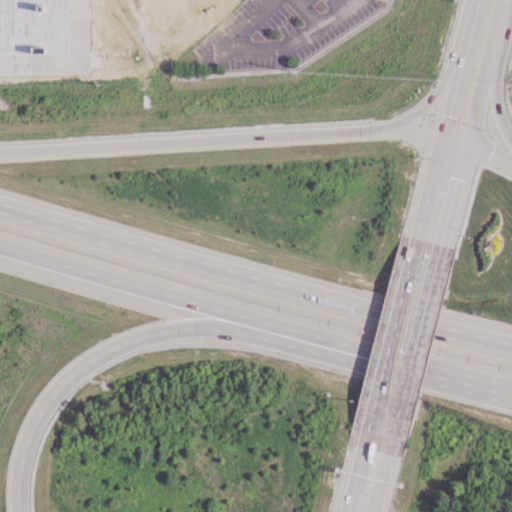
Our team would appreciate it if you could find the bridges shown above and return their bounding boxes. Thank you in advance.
[346,237,456,458]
